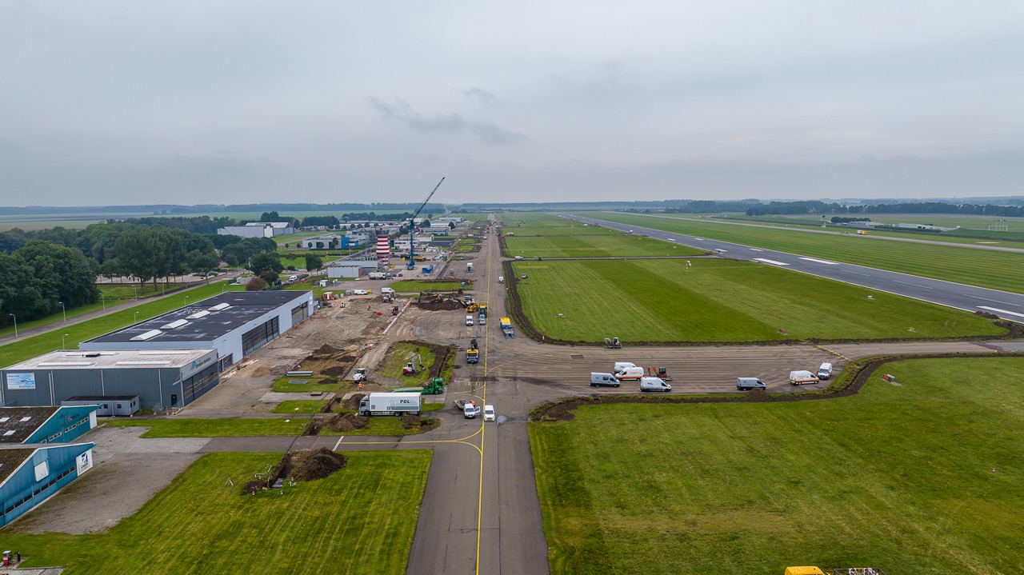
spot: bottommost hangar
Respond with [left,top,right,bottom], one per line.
[0,443,98,529]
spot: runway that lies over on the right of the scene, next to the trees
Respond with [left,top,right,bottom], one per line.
[550,212,1024,323]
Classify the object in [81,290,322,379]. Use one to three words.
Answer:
hangar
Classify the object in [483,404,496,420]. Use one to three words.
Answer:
vehicle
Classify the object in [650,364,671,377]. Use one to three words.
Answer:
vehicle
